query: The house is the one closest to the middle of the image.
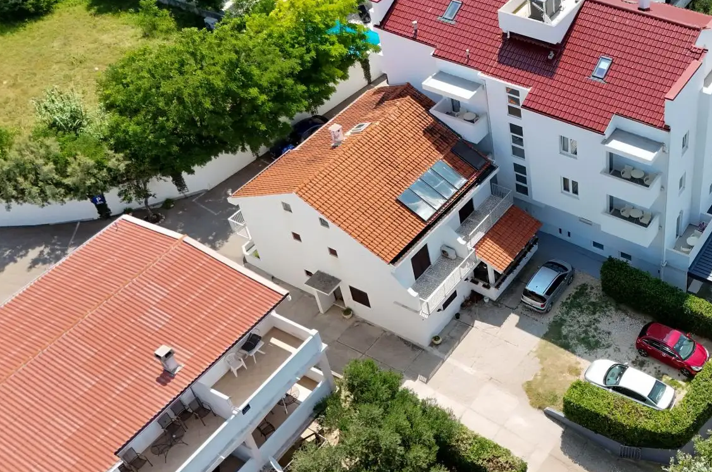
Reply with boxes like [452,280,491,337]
[215,85,548,339]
